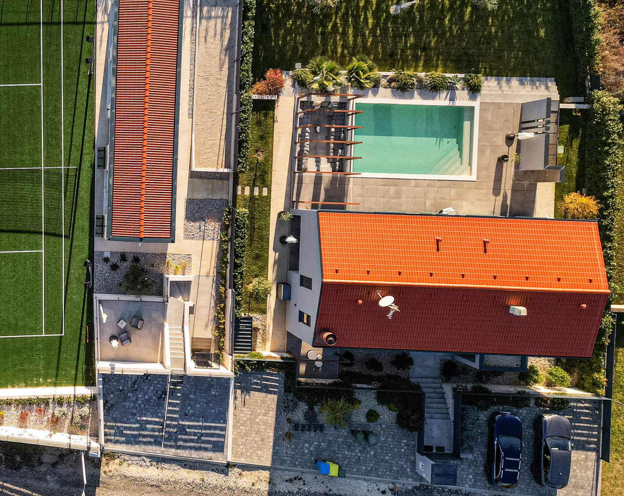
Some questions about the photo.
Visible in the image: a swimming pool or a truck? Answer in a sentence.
I can see a swimming pool in this picture.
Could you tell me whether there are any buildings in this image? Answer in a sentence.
Yes, a building is visible in the scene.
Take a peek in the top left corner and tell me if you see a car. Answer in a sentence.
No, in the top left corner there is no car.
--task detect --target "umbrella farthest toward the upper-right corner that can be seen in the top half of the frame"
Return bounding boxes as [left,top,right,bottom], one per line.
[505,130,535,142]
